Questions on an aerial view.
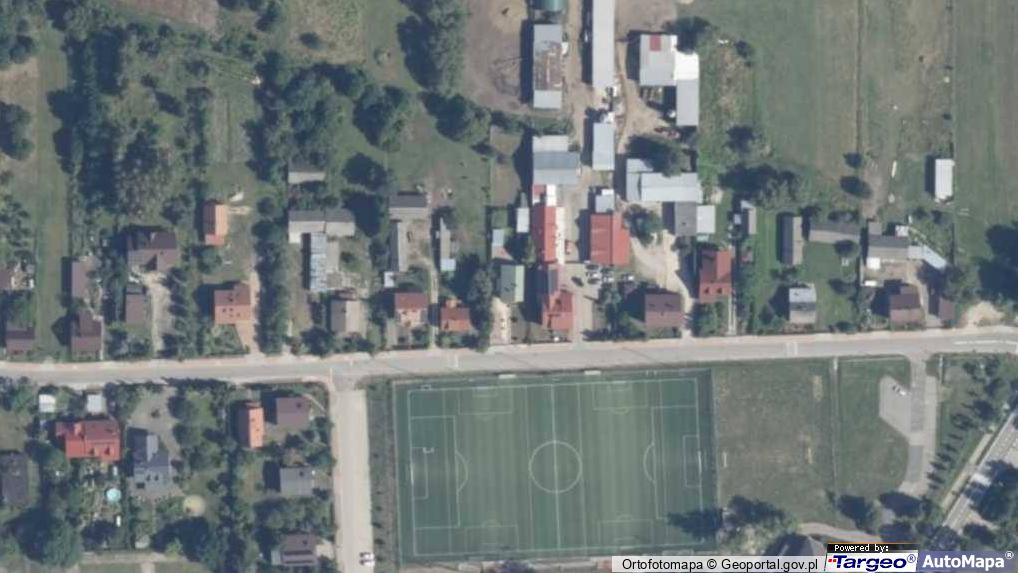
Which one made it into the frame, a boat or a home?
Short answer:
home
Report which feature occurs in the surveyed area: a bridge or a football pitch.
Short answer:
football pitch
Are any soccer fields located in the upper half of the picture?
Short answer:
No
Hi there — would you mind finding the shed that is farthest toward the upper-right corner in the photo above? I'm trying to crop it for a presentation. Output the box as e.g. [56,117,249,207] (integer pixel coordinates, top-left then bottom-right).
[935,159,953,199]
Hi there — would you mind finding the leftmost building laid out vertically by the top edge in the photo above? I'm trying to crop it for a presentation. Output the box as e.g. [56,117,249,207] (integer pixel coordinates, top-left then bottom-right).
[534,24,562,108]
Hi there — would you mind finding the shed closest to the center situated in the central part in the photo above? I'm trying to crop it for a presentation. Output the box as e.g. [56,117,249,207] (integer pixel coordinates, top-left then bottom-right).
[500,265,525,302]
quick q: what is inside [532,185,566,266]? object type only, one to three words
building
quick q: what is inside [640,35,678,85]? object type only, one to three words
barn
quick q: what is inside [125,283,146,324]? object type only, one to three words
shed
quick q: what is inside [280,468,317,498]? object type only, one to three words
house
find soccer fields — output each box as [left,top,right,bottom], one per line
[393,370,717,562]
